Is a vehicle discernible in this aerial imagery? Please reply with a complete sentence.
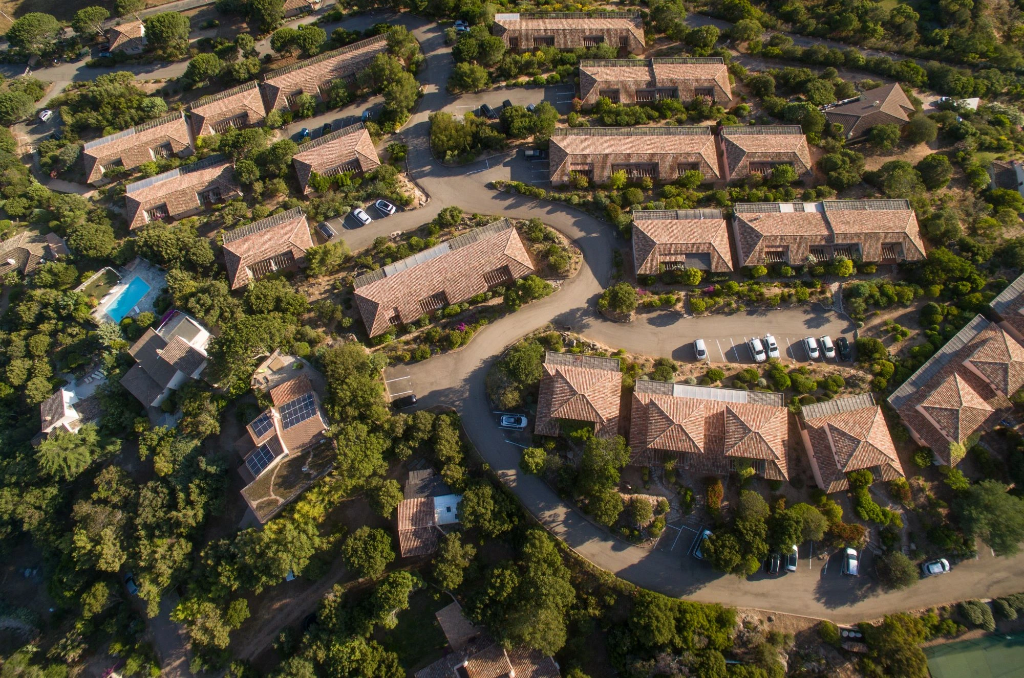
Yes, the frame does contain a vehicle.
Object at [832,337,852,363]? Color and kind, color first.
black car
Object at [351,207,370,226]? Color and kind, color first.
white car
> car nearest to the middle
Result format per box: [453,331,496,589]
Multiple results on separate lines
[499,416,528,429]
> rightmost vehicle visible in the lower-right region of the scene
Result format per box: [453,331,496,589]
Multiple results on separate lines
[920,560,949,575]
